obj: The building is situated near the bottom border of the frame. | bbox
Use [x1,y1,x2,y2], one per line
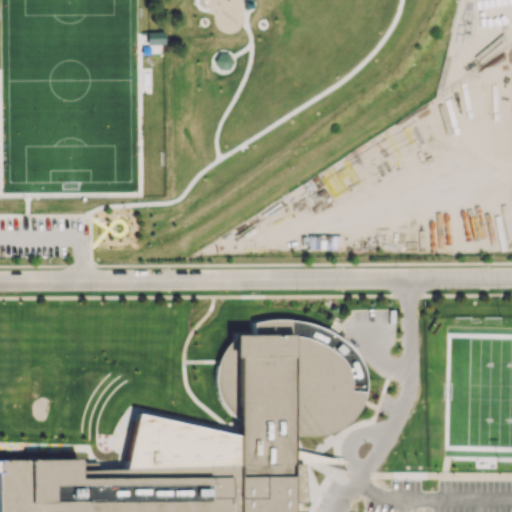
[0,319,370,512]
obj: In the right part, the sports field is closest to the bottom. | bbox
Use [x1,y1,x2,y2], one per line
[445,327,512,456]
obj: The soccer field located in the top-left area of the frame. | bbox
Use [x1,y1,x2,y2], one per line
[2,0,138,192]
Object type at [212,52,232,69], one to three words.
gazebo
